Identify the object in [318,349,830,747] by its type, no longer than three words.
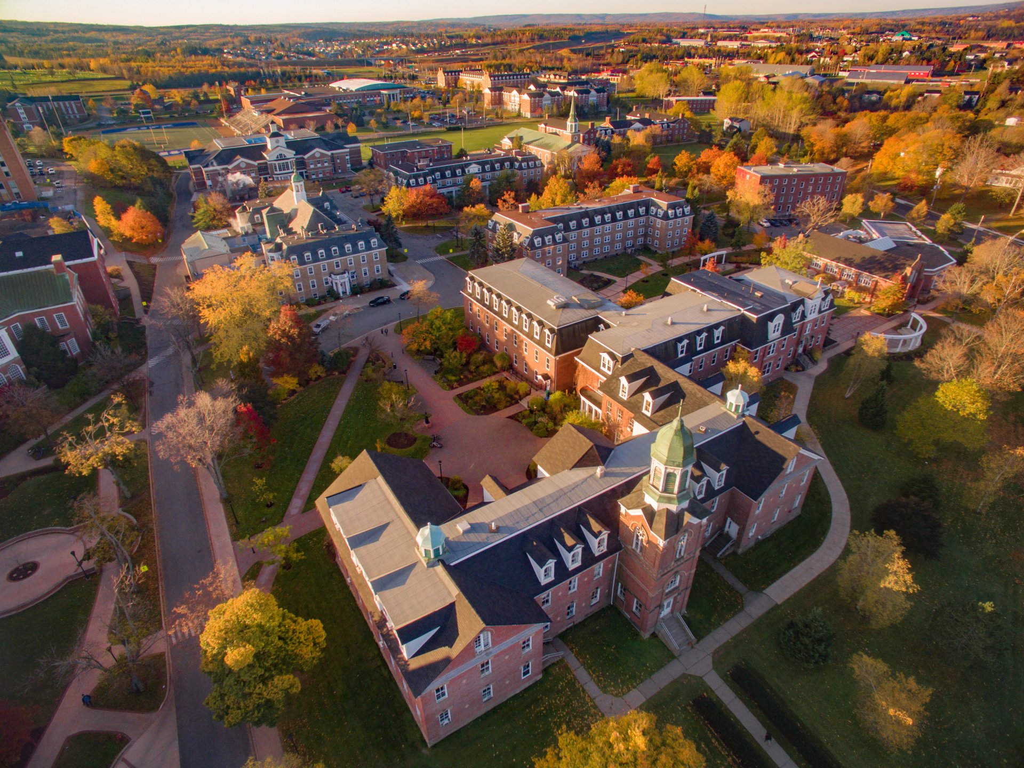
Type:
building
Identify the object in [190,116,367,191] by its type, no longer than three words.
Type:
building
